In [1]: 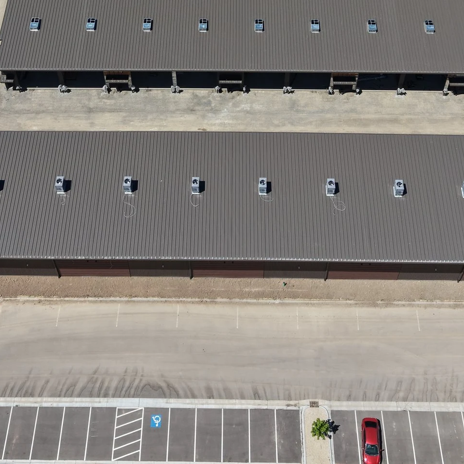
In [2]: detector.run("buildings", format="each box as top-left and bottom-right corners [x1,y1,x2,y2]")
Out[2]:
[0,130,464,285]
[0,0,464,93]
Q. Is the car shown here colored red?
Yes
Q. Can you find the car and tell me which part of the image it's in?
bottom right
